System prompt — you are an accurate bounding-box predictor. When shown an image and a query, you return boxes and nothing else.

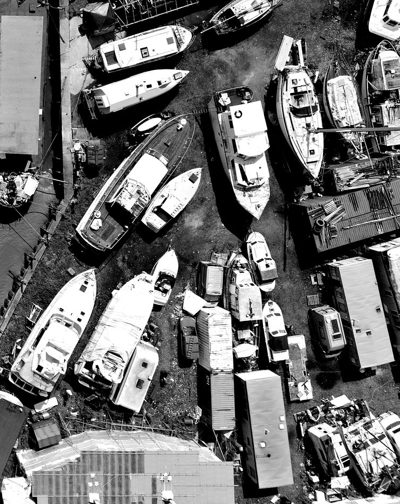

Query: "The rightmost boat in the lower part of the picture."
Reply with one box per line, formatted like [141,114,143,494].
[374,409,400,469]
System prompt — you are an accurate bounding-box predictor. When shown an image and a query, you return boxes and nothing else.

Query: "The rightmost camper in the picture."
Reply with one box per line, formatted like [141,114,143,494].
[301,302,346,358]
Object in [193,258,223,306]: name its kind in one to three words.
truck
